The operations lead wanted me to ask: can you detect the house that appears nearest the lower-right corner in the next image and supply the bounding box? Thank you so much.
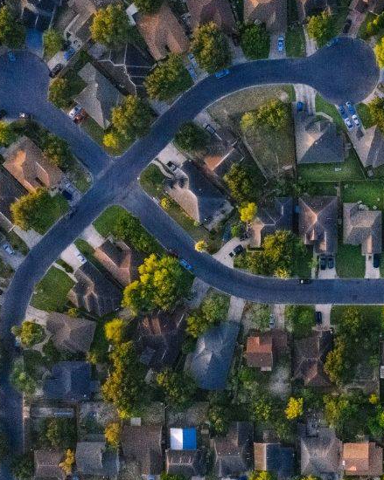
[342,442,383,477]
